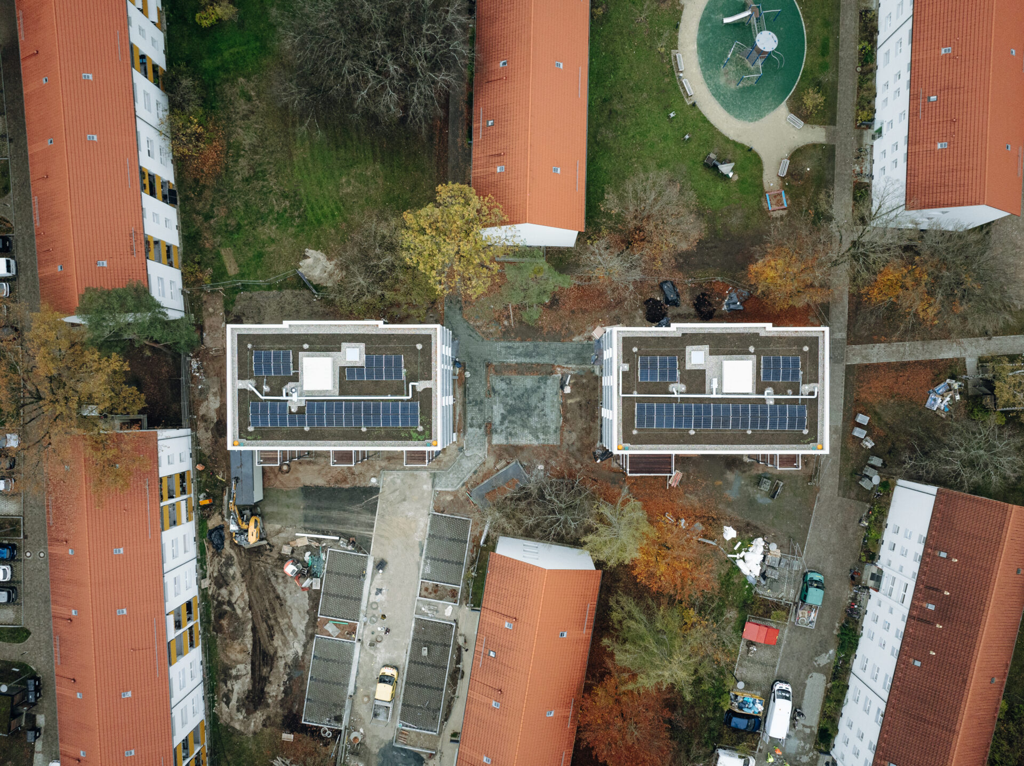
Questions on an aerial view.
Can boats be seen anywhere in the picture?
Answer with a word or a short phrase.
No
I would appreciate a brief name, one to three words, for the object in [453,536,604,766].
house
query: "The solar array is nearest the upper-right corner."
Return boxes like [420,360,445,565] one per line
[761,356,800,381]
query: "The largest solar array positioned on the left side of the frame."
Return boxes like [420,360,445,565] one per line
[249,402,420,426]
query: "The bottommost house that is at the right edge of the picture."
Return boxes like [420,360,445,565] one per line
[827,480,1024,766]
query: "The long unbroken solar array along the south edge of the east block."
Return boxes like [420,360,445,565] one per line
[635,404,807,429]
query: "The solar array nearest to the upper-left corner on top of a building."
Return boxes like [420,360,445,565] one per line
[252,351,293,375]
